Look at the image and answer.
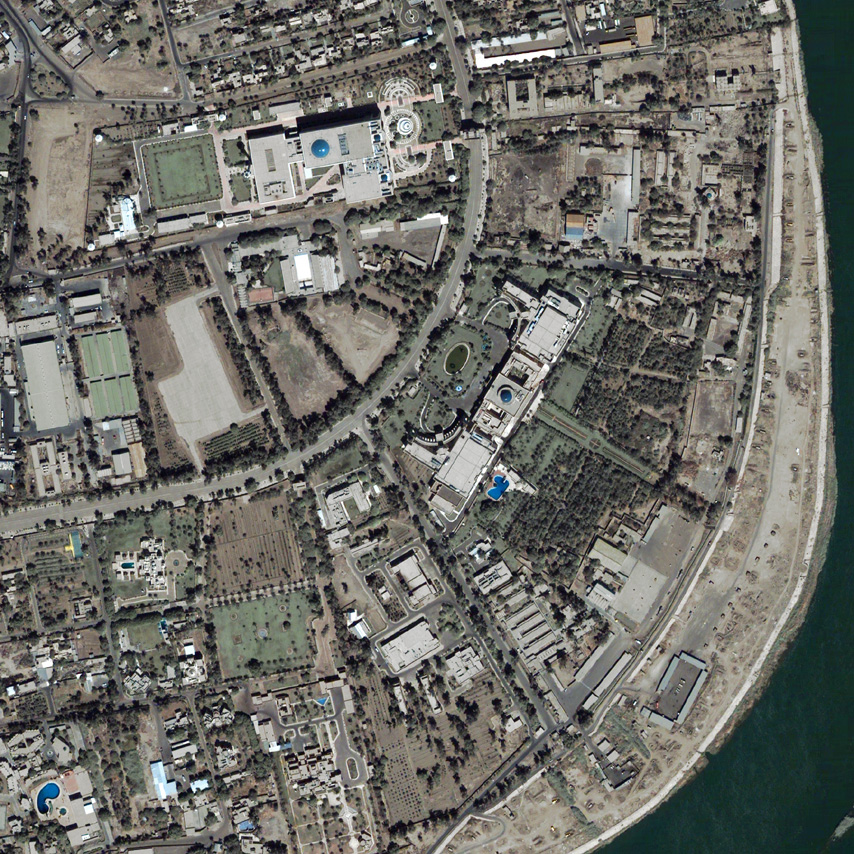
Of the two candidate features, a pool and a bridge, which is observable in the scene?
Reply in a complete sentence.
Visible in the photo is a pool.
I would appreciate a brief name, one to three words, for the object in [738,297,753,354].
shed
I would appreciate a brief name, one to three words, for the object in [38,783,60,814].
swimming pool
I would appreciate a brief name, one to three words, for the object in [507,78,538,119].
building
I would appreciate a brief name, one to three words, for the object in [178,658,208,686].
house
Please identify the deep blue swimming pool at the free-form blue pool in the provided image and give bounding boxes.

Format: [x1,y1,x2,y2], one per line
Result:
[488,475,510,500]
